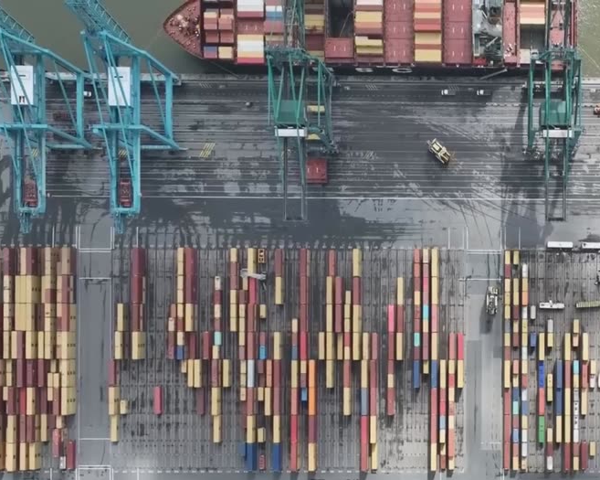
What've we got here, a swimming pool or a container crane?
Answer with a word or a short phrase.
container crane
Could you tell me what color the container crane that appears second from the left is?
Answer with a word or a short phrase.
blue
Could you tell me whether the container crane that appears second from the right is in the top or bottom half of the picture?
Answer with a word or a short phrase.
top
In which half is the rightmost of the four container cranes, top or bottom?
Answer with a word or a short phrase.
top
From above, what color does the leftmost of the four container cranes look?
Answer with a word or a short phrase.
blue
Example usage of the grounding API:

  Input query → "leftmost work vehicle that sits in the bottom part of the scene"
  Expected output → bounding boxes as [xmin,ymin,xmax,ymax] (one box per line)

[486,287,498,313]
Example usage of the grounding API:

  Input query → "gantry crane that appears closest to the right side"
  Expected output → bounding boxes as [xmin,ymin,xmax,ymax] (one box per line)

[521,0,587,229]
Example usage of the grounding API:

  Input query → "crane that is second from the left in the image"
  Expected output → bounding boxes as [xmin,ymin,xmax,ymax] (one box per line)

[72,0,187,227]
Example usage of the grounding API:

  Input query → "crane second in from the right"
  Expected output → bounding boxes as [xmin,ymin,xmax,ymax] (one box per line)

[267,0,342,227]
